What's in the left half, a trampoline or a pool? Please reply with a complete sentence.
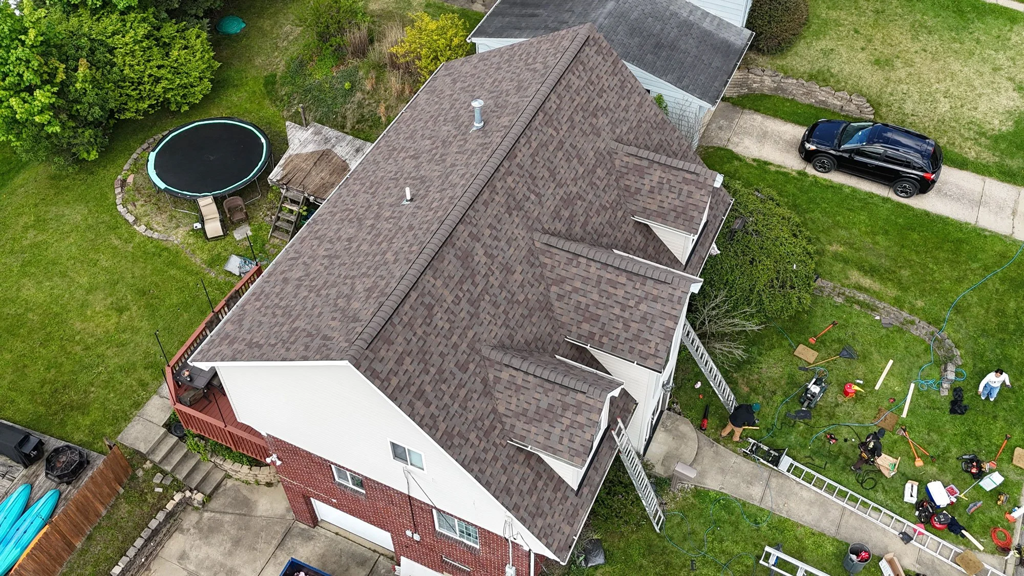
There is a trampoline in the left half.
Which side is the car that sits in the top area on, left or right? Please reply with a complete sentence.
The car that sits in the top area is on the right side of the image.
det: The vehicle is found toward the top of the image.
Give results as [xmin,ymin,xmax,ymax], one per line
[799,116,948,197]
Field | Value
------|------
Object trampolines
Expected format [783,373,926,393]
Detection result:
[147,118,276,219]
